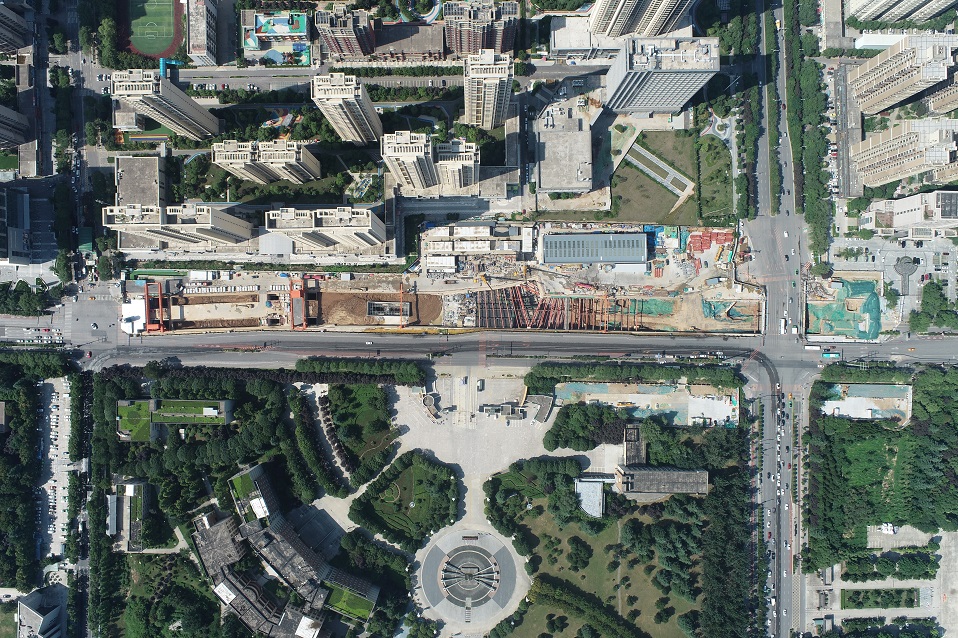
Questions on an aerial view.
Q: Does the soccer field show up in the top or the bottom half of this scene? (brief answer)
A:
top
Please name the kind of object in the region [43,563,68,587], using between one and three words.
building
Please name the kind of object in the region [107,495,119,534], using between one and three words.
shed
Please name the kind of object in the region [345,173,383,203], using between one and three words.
playground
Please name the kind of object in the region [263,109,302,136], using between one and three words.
playground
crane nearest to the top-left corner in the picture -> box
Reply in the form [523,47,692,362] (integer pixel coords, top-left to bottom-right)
[143,283,171,332]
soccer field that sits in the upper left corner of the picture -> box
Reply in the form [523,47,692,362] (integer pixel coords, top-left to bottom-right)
[119,0,183,58]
